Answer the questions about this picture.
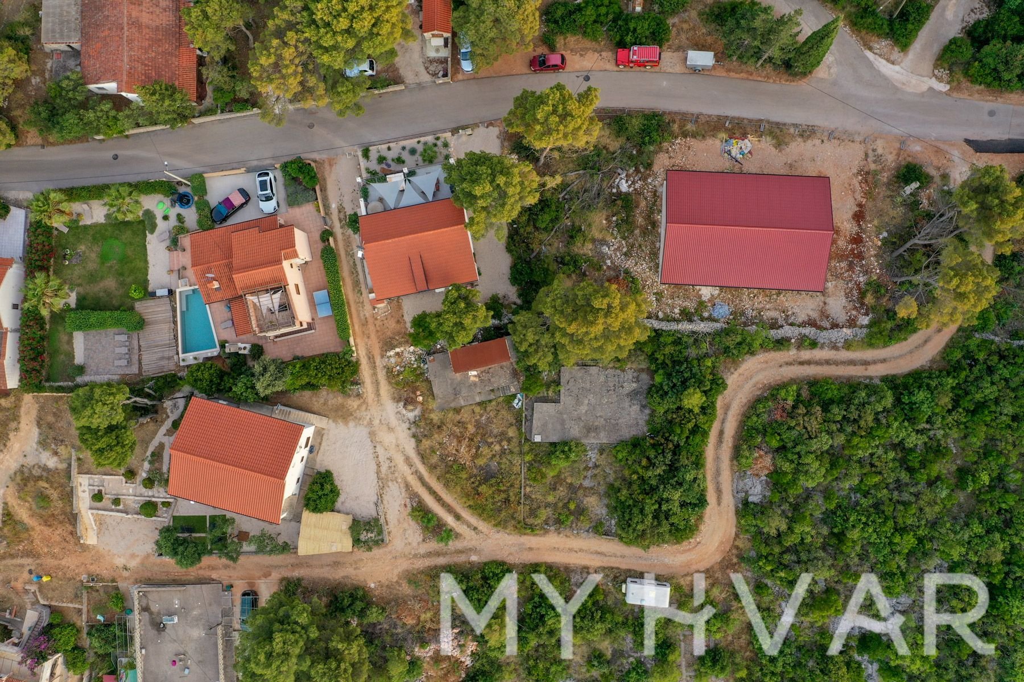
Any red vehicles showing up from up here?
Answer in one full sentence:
Yes, you can see a red vehicle in this photo.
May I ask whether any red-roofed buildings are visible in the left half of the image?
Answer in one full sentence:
Yes, the scene does show a red-roofed building in the left half of the image.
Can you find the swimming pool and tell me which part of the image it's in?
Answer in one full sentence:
The swimming pool is in the left part of the image.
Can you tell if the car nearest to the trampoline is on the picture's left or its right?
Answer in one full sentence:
The car nearest to the trampoline appears in the left half of the scene.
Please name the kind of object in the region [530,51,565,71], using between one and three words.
car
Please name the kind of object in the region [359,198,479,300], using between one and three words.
house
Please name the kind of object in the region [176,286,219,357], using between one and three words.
swimming pool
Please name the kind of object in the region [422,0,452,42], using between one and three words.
house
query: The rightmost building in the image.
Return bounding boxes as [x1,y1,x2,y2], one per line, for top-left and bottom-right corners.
[654,169,834,293]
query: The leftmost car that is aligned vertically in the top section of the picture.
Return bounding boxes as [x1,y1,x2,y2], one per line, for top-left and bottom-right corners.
[256,172,279,215]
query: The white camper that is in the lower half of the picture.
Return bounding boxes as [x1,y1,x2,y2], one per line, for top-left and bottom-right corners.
[617,575,670,607]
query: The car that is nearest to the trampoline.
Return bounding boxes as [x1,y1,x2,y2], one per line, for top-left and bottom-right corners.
[211,186,252,222]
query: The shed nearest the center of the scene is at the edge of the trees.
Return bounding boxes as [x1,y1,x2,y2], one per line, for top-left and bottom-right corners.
[427,337,522,410]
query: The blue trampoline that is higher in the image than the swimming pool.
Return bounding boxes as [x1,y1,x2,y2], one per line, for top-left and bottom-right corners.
[173,191,195,210]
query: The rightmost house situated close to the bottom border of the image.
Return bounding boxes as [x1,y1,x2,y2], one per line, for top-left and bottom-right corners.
[131,581,235,682]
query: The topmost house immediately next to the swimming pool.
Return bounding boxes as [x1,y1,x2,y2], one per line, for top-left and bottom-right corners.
[190,214,312,336]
